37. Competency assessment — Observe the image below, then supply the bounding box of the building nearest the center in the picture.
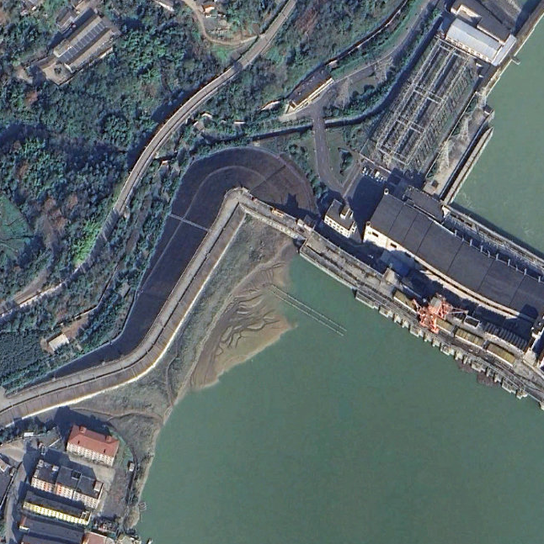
[324,204,355,237]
